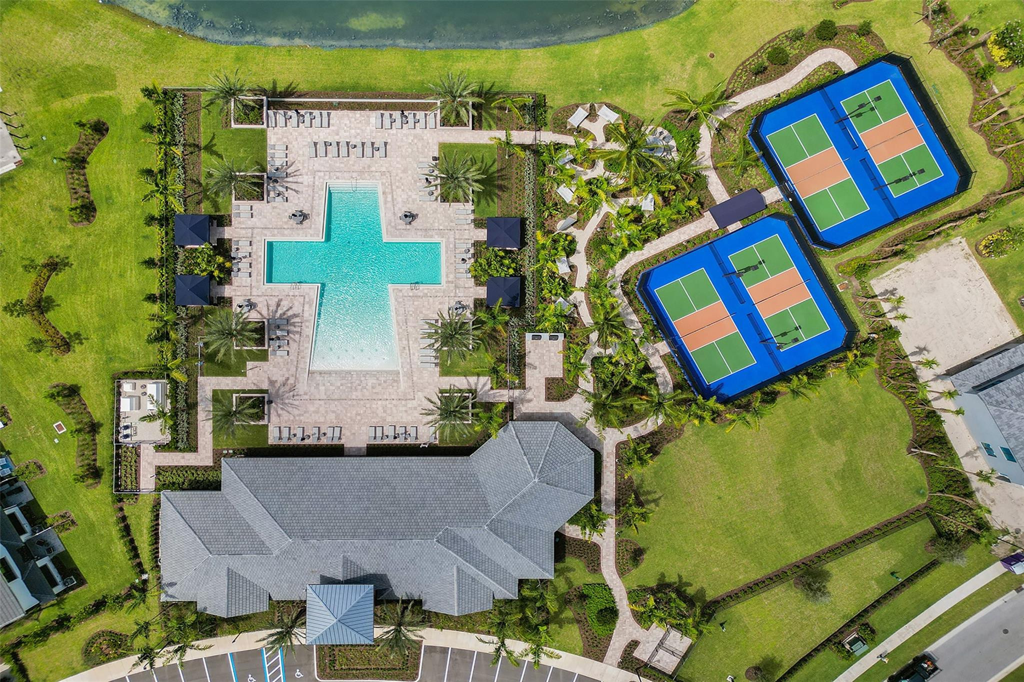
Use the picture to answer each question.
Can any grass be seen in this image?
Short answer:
Yes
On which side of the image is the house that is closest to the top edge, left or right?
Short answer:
right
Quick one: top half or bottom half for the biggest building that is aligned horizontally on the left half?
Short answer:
bottom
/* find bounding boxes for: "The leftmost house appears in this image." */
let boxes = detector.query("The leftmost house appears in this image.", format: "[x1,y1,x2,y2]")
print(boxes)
[0,483,65,625]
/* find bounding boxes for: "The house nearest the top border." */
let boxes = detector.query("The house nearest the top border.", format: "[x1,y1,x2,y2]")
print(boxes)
[948,342,1024,489]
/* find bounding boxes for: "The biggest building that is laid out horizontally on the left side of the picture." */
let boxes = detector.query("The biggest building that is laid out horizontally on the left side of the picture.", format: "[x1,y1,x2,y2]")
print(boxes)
[160,422,594,618]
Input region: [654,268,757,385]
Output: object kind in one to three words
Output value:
sports court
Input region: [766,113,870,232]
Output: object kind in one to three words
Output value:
sports court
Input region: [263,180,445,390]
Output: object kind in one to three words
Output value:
swimming pool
